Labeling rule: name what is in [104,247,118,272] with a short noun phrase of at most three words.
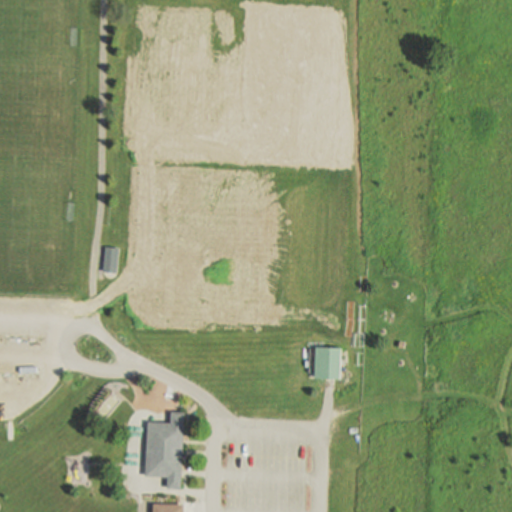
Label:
shed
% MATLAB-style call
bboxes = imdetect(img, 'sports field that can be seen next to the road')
[0,0,80,296]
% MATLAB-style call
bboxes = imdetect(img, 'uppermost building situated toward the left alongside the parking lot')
[145,412,186,490]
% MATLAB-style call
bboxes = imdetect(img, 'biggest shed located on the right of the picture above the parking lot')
[315,348,344,380]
